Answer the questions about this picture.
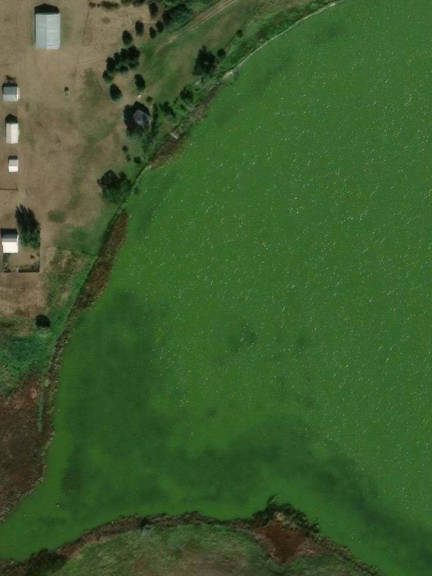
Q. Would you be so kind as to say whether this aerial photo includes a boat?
No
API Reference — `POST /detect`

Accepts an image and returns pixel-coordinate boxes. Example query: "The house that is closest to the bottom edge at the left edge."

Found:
[0,233,19,253]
